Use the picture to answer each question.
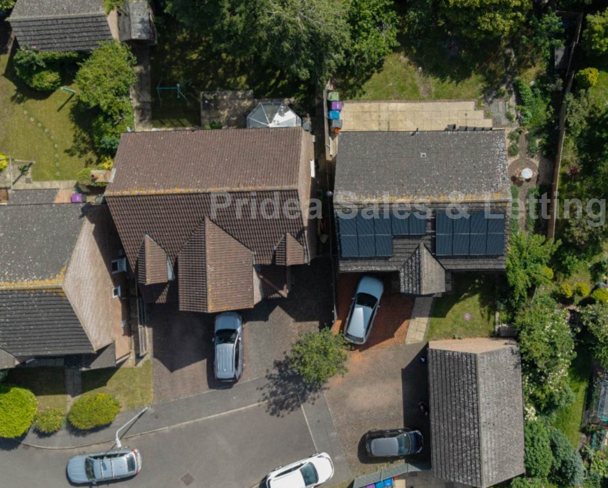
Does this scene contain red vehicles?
No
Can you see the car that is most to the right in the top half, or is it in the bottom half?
bottom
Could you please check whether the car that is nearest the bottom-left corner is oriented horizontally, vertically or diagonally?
horizontally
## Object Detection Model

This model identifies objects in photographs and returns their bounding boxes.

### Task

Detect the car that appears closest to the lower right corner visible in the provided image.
[365,426,424,460]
